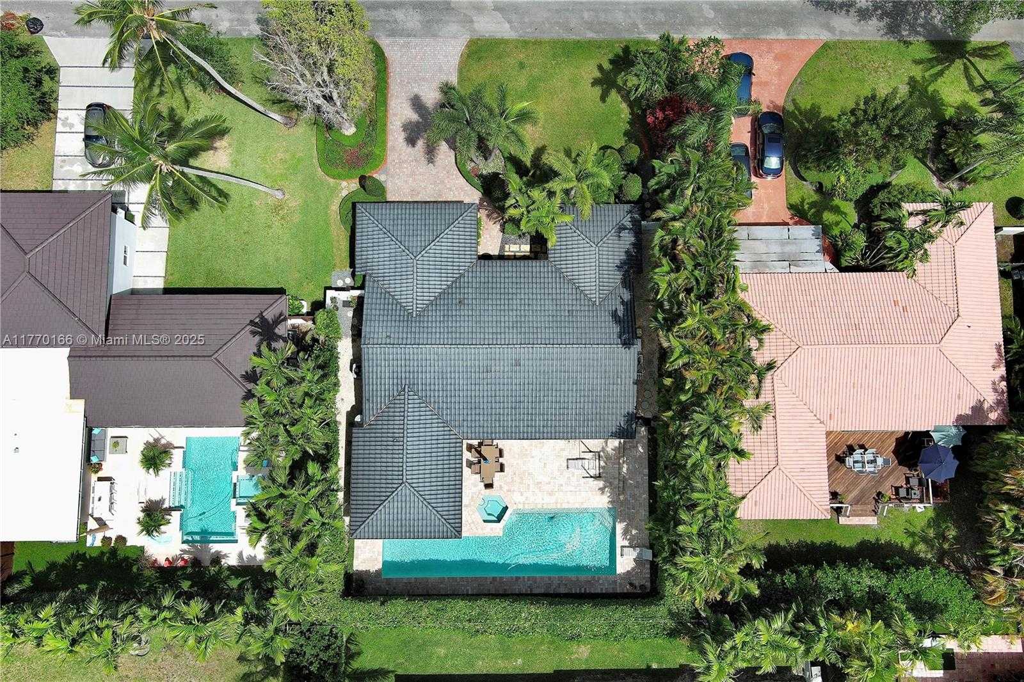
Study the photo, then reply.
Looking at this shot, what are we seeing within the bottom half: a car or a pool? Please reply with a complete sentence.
The feature located within the bottom half is a pool.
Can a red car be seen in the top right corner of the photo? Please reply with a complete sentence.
No, there's no red car to be seen in the top right corner of the photo.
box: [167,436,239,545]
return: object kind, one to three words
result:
swimming pool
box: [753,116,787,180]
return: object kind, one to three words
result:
car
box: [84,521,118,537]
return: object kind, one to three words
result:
umbrella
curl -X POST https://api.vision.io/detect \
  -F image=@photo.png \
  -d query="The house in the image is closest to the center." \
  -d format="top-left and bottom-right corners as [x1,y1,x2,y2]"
[348,202,643,540]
